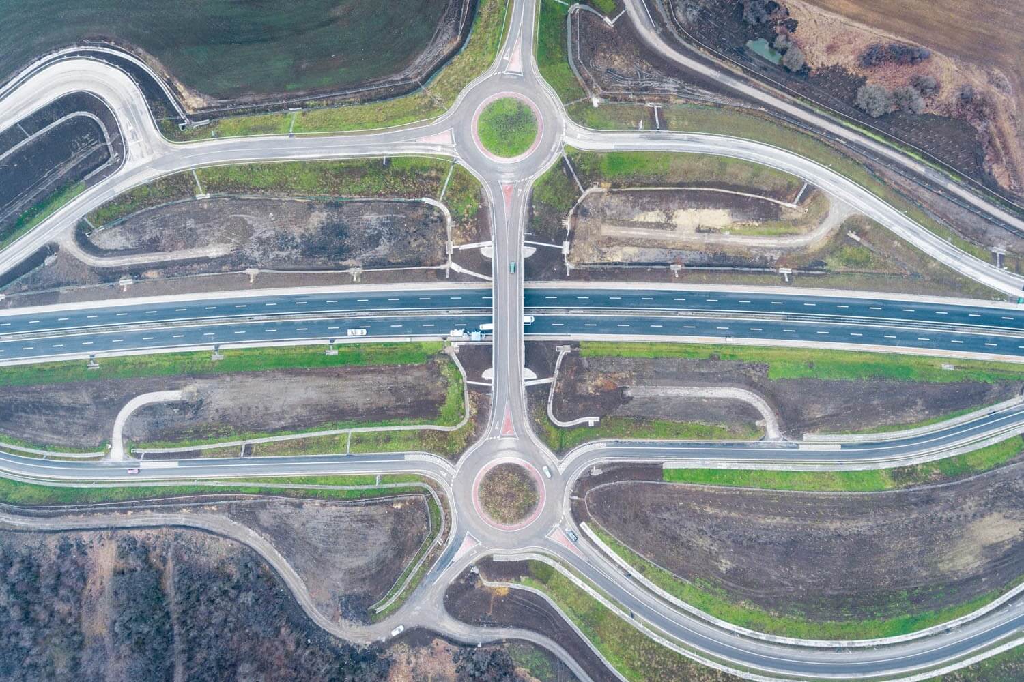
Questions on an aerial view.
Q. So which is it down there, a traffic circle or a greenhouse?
traffic circle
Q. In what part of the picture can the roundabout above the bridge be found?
top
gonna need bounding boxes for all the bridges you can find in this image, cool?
[493,226,524,398]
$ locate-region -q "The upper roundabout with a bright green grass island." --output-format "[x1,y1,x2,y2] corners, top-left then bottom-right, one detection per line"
[409,27,588,225]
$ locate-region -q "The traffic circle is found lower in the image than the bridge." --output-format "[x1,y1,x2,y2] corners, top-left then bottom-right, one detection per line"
[435,399,587,571]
